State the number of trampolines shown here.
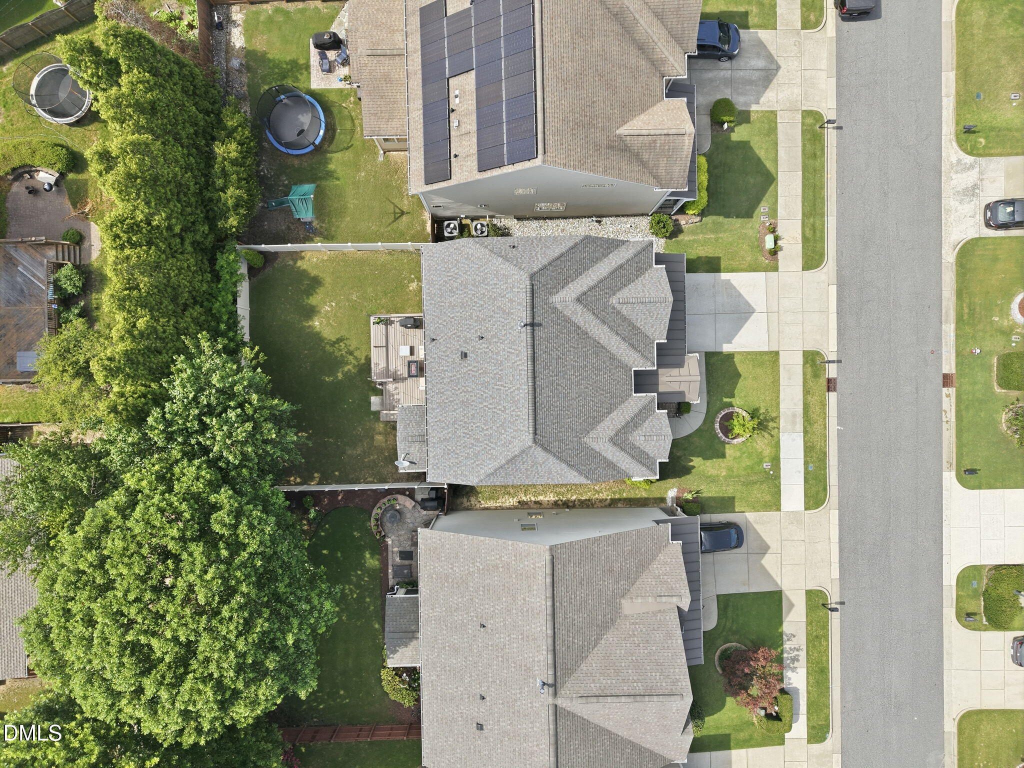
2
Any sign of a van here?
Yes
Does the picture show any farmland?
No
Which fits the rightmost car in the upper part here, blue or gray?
gray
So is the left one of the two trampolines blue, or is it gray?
gray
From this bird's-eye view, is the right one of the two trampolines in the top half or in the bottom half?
top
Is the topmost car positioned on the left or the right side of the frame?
right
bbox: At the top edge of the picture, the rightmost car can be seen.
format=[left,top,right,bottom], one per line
[833,0,874,20]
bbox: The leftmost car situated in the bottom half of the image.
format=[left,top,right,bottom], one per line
[701,519,744,550]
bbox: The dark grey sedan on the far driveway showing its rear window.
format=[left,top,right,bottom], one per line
[984,202,1024,234]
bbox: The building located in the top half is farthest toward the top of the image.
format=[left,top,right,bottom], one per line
[346,0,702,220]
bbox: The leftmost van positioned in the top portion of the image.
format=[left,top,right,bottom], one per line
[688,24,732,67]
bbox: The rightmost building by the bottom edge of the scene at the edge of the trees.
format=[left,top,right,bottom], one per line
[385,505,705,768]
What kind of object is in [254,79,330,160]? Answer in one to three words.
trampoline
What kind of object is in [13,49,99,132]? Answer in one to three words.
trampoline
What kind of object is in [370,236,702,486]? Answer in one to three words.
house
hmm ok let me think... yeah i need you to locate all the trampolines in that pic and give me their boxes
[13,49,99,132]
[254,79,330,160]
